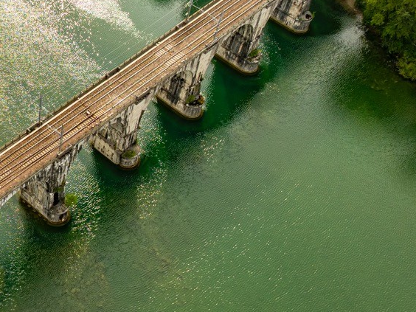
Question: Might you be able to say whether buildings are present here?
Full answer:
No, the photo shows no building.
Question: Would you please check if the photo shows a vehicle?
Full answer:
No, there appears to be no vehicle in this shot.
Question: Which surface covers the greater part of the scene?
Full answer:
Most of the picture is covered by water.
